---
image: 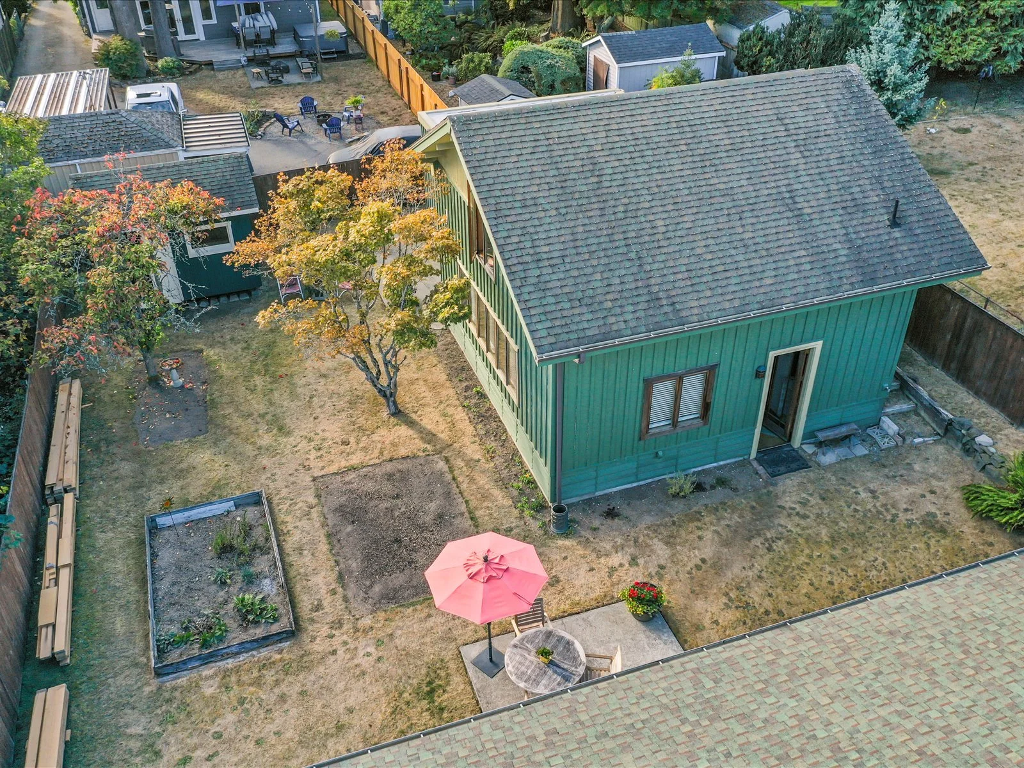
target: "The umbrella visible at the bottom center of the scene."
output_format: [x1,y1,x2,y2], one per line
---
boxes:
[421,533,554,676]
